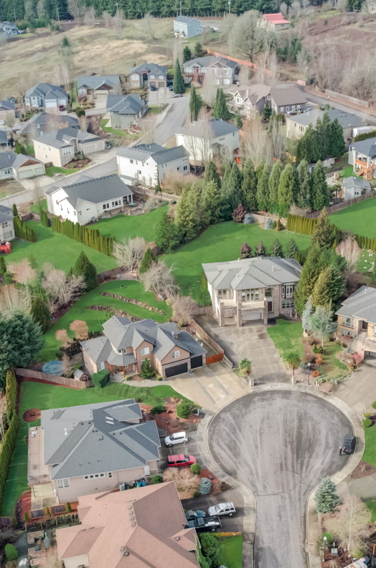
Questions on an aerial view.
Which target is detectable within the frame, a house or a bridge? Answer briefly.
house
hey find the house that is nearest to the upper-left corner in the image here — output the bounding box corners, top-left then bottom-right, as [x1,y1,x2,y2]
[0,21,22,45]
